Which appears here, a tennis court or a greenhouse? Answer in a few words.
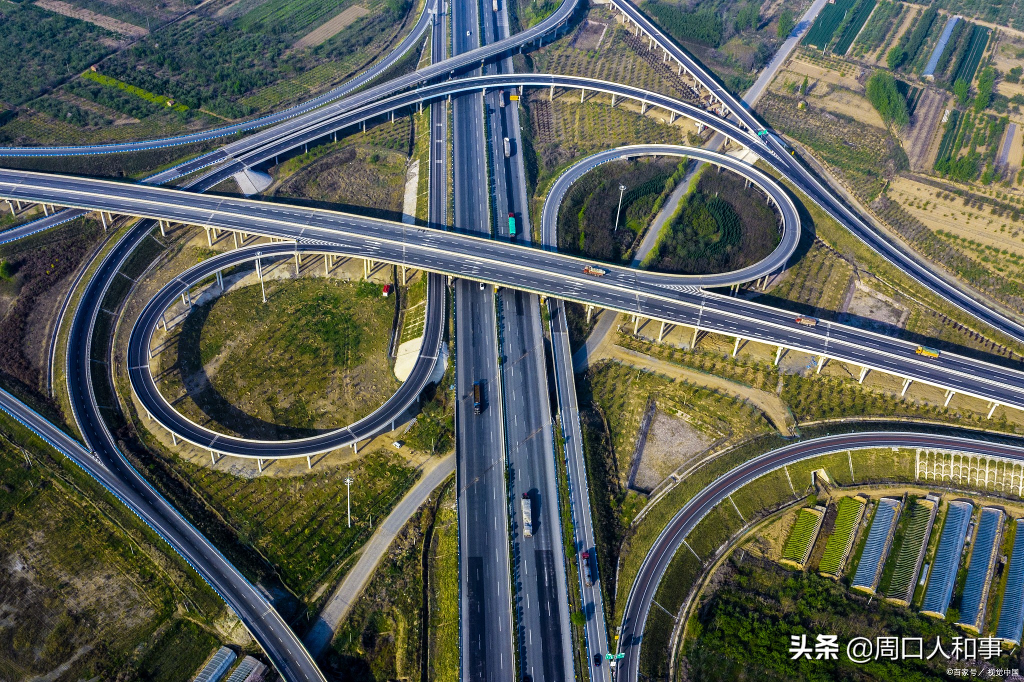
greenhouse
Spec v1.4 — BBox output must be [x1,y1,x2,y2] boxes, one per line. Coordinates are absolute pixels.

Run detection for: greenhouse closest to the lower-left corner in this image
[195,648,237,682]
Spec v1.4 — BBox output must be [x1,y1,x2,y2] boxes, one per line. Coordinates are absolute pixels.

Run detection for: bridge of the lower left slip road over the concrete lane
[240,601,328,682]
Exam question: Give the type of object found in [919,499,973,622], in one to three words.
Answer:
greenhouse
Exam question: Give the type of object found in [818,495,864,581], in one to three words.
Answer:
greenhouse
